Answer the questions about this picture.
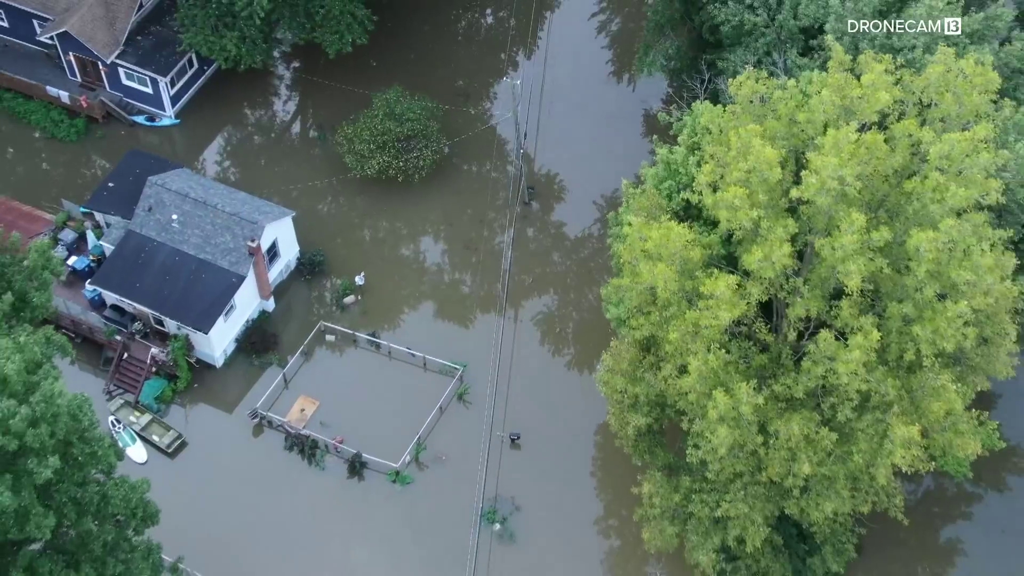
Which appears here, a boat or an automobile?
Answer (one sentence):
The image shows a boat.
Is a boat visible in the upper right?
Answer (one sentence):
No, there is no boat in the upper right.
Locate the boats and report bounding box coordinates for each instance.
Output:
[106,391,189,458]
[129,114,180,125]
